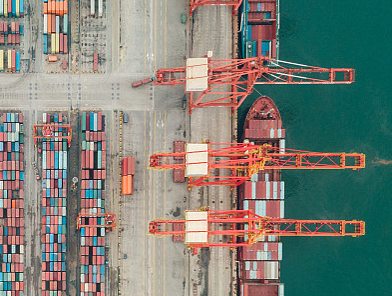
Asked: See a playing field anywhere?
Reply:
No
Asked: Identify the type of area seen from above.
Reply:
port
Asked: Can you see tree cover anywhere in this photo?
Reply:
No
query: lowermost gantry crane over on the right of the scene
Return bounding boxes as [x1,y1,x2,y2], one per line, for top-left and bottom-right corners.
[147,206,366,250]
